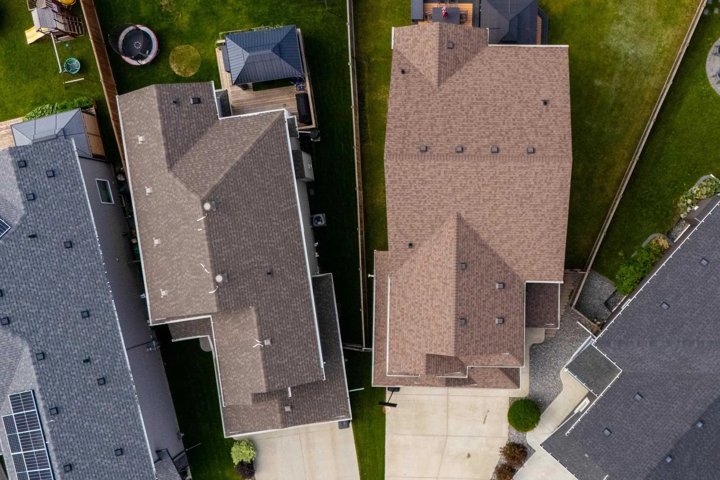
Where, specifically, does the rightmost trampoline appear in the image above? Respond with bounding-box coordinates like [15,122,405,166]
[107,18,162,67]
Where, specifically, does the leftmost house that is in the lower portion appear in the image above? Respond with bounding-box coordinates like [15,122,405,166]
[0,137,202,480]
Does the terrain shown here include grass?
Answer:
Yes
